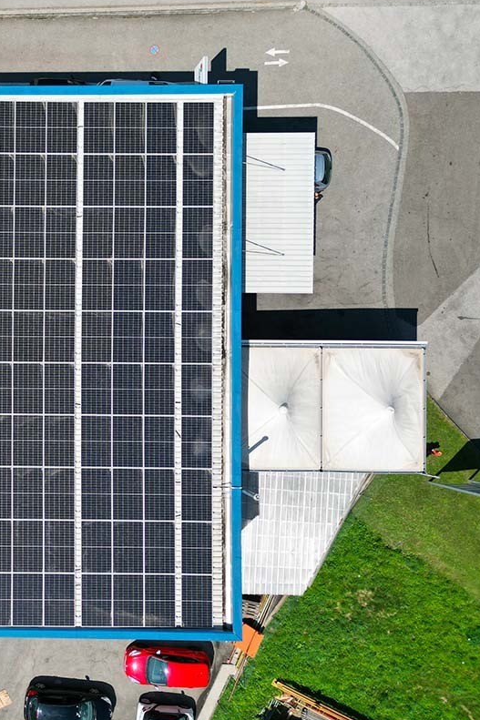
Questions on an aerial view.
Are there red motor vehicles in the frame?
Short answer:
Yes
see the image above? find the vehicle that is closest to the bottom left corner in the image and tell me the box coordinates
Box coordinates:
[25,683,114,720]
